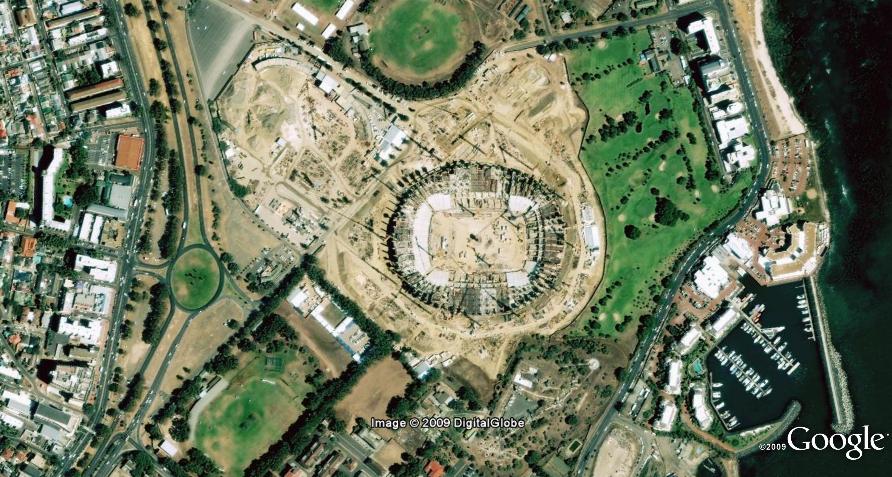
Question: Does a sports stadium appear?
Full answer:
Yes, a sports stadium can be made out from above.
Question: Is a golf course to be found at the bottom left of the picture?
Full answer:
No, no golf course is visible at the bottom left of the picture.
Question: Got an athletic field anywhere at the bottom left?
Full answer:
Yes, the scene does show an athletic field at the bottom left.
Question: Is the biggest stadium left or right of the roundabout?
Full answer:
To the right of the roundabout is where the biggest stadium appears.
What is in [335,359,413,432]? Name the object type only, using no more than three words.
sports field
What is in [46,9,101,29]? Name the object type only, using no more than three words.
building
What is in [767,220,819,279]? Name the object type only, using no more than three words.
building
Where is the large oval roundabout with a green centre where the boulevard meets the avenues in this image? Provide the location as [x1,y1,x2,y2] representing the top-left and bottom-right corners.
[166,243,225,312]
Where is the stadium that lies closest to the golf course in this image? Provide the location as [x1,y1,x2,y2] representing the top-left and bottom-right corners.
[387,159,565,324]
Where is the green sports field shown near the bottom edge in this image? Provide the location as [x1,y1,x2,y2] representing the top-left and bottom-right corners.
[188,377,295,477]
